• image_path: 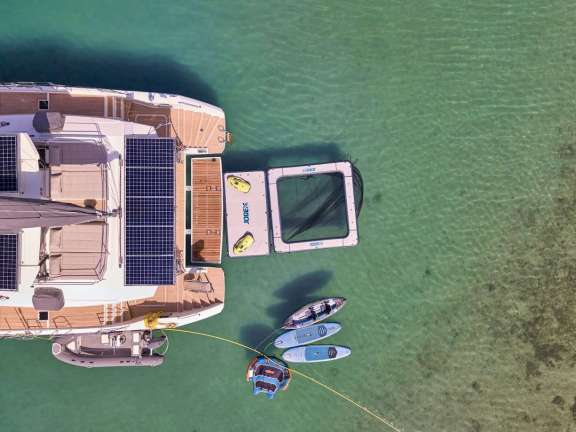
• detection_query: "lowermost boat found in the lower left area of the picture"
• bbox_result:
[50,328,169,368]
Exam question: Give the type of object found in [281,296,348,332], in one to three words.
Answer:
boat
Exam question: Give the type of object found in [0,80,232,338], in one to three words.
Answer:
boat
